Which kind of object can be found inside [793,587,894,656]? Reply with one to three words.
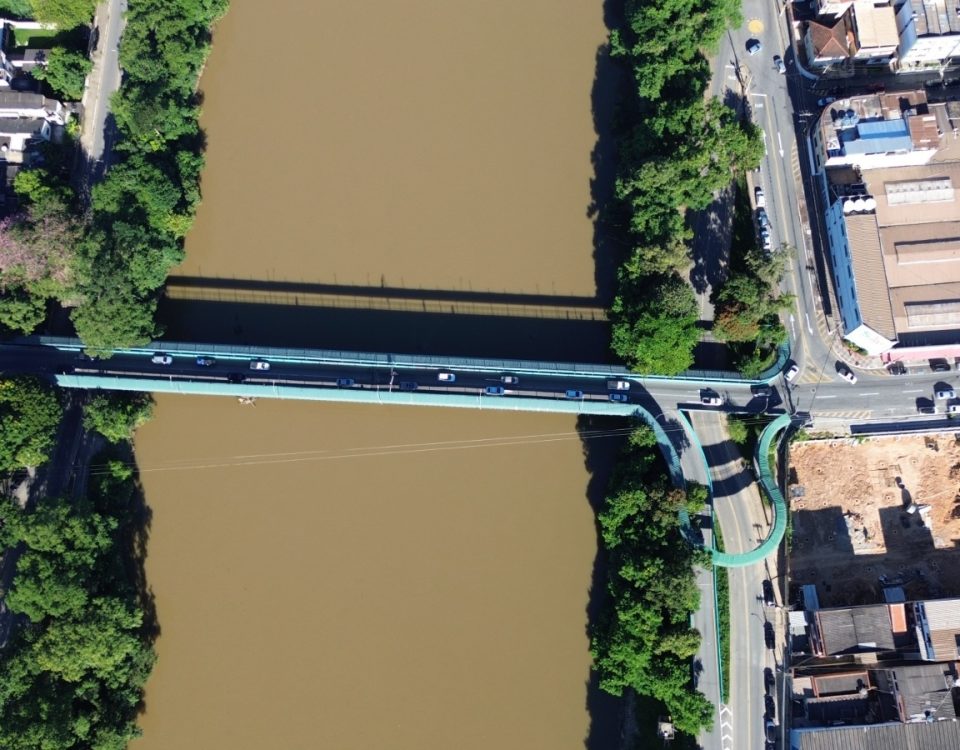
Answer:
house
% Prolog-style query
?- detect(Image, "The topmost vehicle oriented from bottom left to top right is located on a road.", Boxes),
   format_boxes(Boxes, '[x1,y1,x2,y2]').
[744,39,763,55]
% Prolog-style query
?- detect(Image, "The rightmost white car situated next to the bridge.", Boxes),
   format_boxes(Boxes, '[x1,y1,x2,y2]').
[783,364,800,382]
